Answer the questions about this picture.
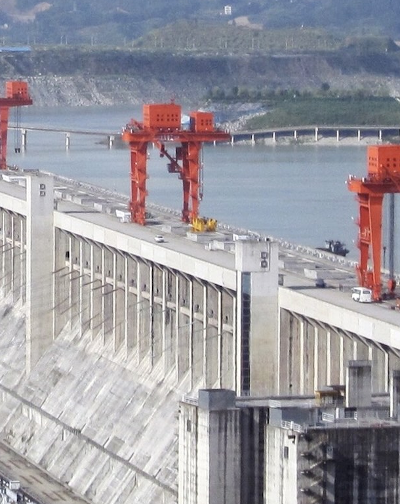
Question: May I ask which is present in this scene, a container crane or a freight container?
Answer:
container crane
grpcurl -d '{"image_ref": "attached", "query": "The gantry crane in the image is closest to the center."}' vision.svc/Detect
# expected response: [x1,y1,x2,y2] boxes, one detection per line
[118,96,229,224]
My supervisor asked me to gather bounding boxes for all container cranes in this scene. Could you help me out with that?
[118,96,229,224]
[342,143,400,299]
[0,77,25,168]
